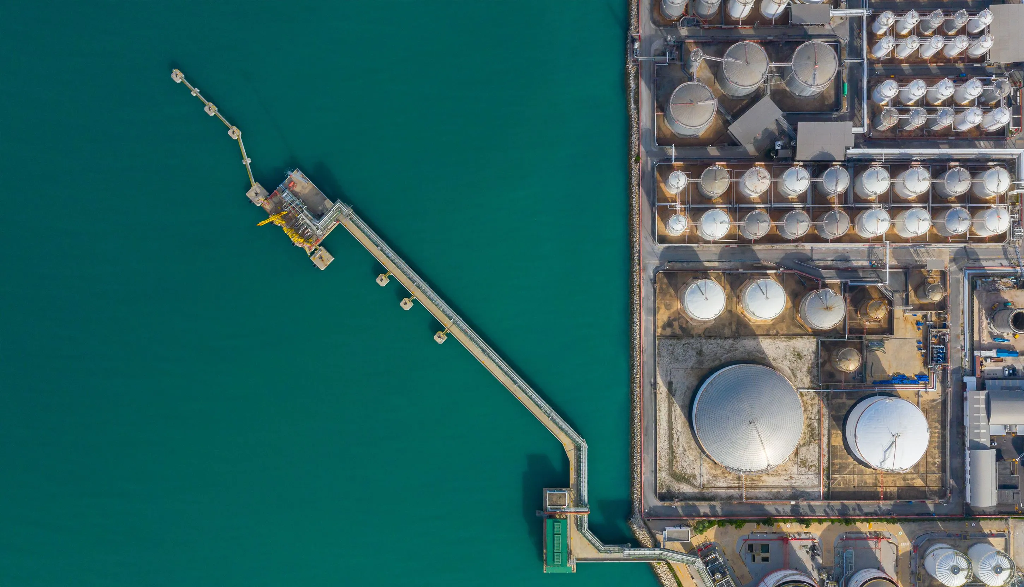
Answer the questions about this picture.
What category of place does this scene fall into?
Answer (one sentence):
The area seen from above is an industrial area.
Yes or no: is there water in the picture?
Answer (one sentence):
Yes, there's water in this view.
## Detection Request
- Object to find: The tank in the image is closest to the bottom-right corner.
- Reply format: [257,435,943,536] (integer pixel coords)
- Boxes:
[964,541,1020,587]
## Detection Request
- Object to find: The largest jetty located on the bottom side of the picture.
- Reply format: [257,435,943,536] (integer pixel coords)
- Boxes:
[339,210,665,563]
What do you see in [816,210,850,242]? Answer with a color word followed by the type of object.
gray storage tank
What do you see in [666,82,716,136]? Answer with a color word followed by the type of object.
gray storage tank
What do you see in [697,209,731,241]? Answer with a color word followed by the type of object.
white storage tank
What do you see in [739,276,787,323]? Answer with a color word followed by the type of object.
white storage tank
